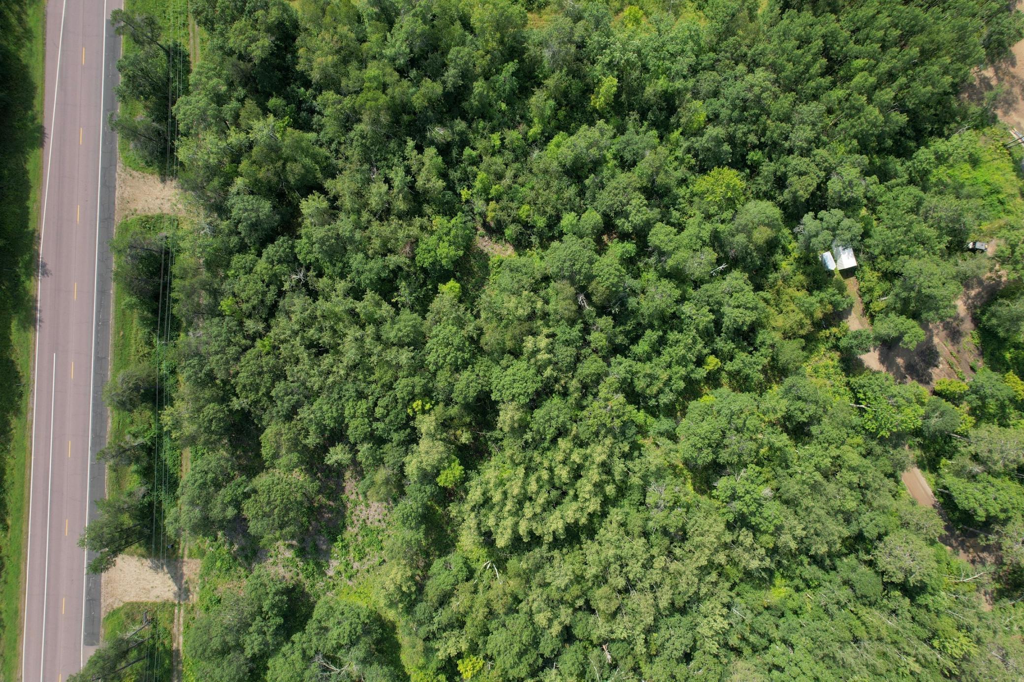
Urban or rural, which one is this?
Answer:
rural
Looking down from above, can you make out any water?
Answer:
No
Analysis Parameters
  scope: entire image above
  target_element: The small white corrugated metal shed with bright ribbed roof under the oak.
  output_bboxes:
[827,240,858,273]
